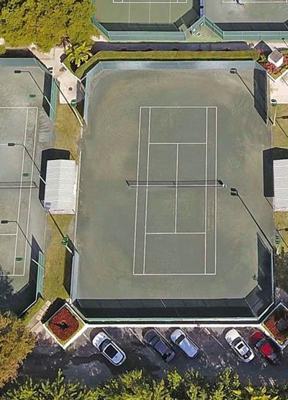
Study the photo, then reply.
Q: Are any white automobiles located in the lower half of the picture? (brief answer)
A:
Yes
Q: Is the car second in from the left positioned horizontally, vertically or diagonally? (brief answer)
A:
diagonally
